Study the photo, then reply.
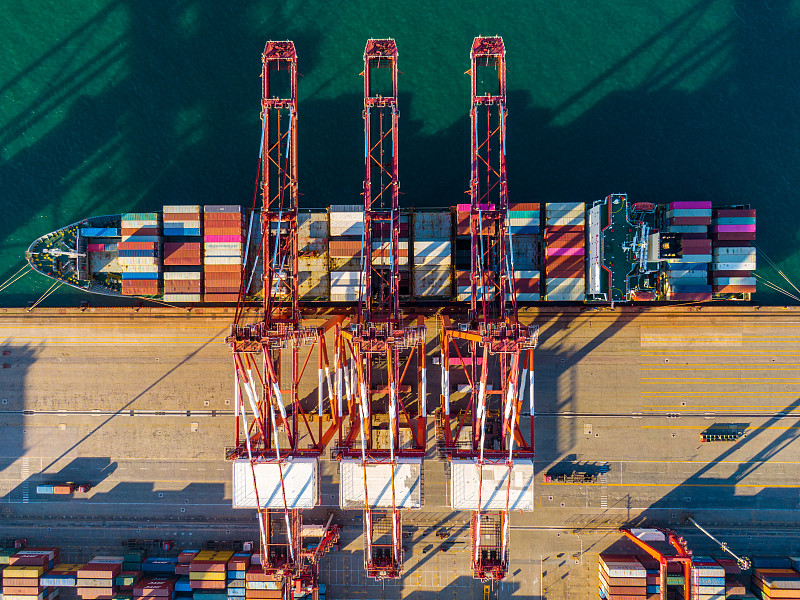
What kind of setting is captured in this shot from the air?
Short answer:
port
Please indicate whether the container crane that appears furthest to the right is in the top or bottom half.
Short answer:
bottom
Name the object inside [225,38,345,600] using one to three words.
container crane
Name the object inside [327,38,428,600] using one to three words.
container crane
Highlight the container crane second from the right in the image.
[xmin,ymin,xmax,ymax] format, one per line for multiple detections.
[427,38,537,600]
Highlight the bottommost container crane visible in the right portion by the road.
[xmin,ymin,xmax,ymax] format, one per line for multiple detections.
[609,527,704,600]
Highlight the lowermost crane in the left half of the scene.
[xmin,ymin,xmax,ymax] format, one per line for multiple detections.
[277,527,347,600]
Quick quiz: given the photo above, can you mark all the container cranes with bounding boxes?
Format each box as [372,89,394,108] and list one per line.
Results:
[225,38,345,600]
[327,38,428,600]
[609,527,704,600]
[427,38,537,600]
[277,527,347,600]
